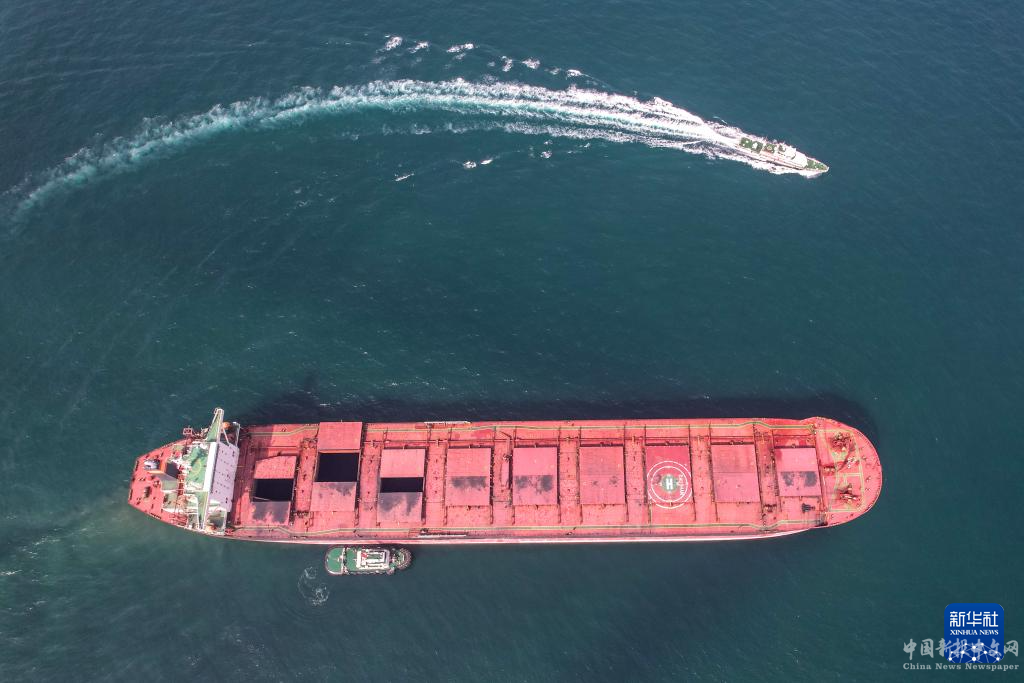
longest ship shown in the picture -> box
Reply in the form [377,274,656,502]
[129,409,881,546]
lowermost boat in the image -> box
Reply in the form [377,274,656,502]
[325,545,412,576]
